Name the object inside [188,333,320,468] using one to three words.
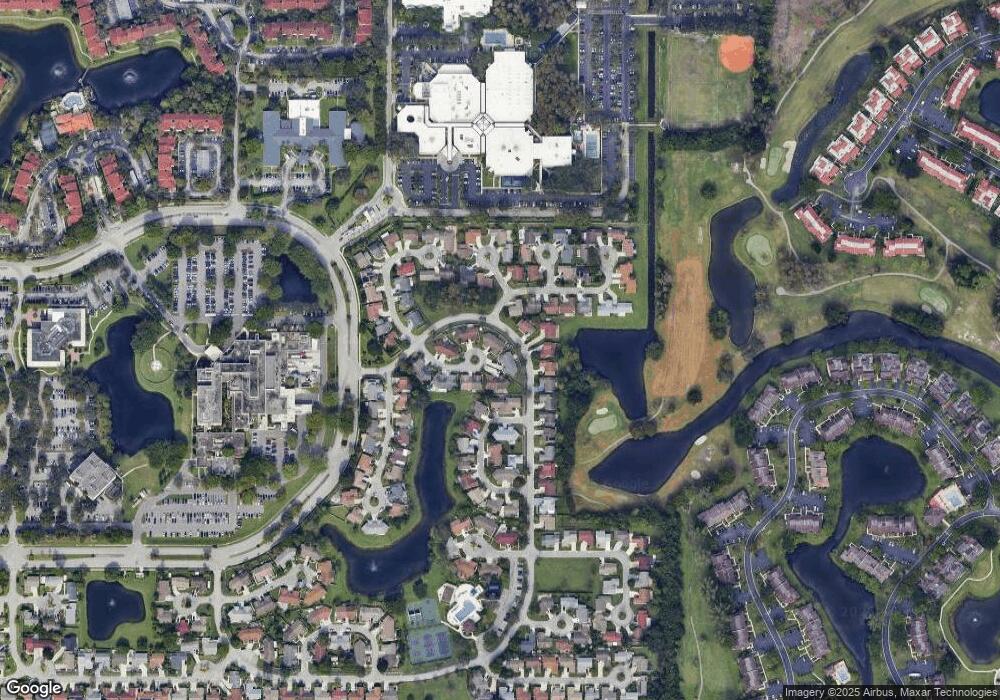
building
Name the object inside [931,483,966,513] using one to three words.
swimming pool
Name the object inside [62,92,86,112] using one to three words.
swimming pool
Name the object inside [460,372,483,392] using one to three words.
house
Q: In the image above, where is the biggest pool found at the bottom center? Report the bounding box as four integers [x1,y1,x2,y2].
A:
[438,586,482,628]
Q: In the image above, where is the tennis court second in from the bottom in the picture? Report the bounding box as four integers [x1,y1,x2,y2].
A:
[407,598,439,627]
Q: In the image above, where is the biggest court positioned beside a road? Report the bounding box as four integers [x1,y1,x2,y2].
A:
[407,625,452,664]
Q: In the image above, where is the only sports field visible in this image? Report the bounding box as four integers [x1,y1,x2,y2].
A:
[668,33,754,126]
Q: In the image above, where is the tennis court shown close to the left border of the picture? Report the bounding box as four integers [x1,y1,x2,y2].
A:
[38,117,56,146]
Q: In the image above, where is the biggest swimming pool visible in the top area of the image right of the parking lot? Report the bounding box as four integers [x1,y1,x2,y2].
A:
[583,125,601,158]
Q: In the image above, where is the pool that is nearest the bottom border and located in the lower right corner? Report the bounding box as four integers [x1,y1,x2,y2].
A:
[836,660,850,685]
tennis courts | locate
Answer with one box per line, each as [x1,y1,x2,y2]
[407,625,452,664]
[38,117,56,146]
[407,598,439,627]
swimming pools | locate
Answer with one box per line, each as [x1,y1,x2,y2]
[836,660,850,685]
[931,483,966,513]
[62,92,86,112]
[583,125,601,158]
[572,129,583,142]
[438,586,482,628]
